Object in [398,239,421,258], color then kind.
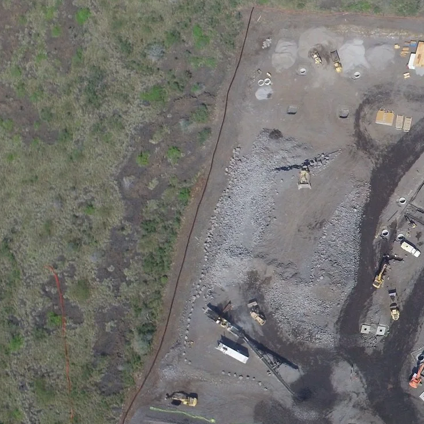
white vehicle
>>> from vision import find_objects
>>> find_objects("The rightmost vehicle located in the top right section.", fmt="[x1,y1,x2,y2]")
[327,48,342,71]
